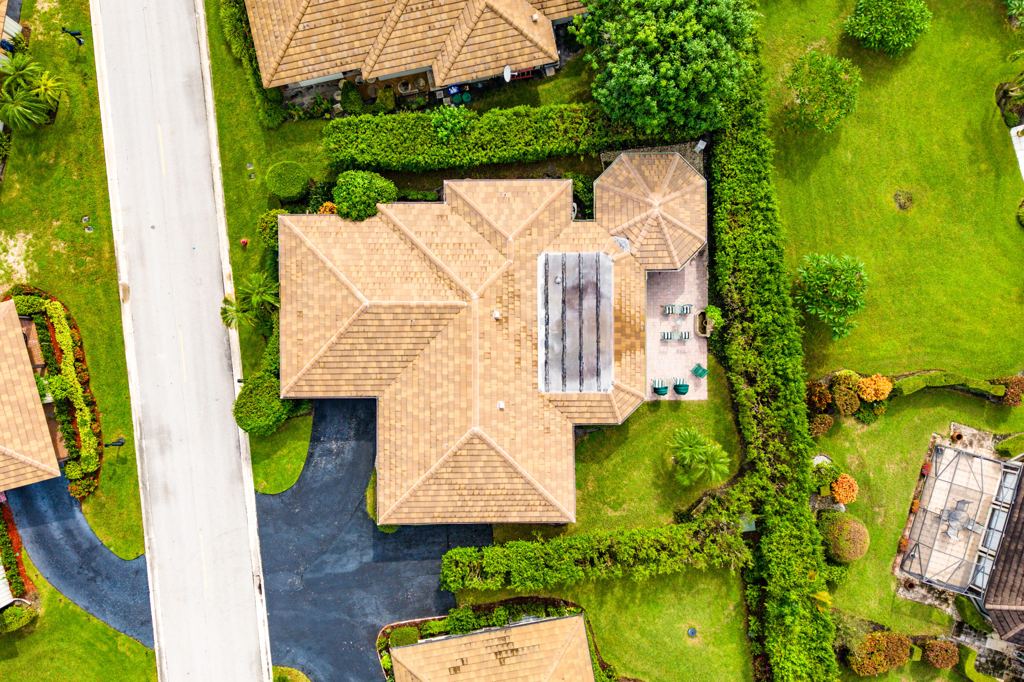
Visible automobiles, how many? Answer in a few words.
0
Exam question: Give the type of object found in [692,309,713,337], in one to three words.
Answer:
fountain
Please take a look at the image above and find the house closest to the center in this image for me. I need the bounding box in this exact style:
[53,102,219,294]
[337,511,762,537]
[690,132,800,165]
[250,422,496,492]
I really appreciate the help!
[277,151,709,527]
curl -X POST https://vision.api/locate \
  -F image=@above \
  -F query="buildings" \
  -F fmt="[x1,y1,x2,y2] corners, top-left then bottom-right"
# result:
[964,435,1024,650]
[0,299,62,492]
[245,0,603,92]
[388,611,597,682]
[0,0,22,44]
[277,151,709,527]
